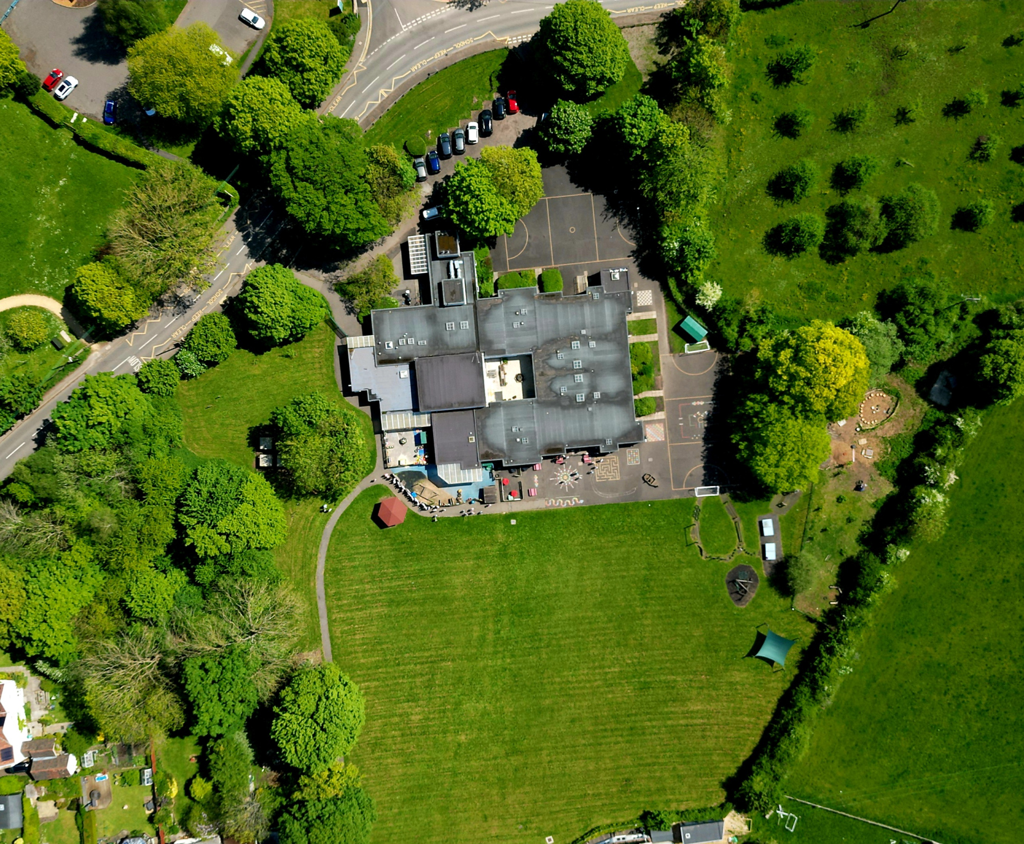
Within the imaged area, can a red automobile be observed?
Yes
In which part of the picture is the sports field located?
bottom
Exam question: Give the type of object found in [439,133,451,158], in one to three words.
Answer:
vehicle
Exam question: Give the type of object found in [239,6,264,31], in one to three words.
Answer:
car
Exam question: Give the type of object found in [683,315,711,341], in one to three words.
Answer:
shed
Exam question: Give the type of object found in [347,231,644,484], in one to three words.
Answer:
building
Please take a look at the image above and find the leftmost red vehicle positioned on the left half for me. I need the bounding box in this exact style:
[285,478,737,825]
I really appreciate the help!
[43,69,64,91]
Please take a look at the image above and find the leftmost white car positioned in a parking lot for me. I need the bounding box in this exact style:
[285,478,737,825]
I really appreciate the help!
[54,75,78,100]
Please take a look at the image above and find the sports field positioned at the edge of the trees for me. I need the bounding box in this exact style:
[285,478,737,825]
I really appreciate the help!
[271,479,820,844]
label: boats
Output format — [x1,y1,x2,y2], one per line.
[643,473,659,487]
